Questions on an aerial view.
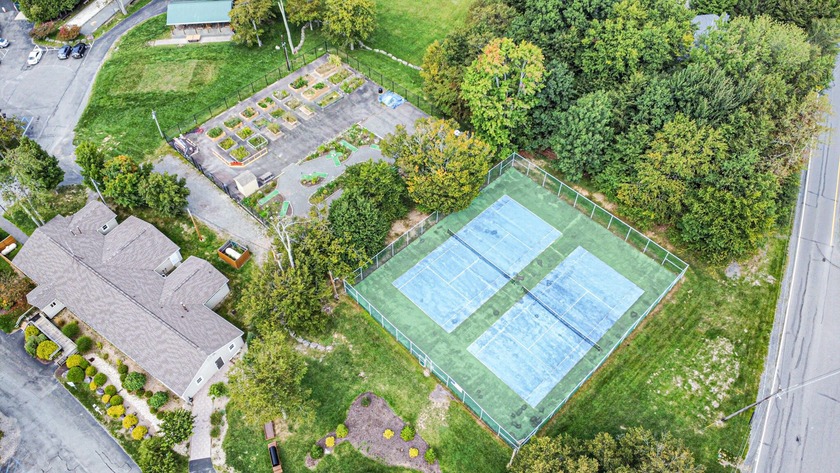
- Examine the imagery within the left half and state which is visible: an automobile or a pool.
automobile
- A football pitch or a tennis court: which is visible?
tennis court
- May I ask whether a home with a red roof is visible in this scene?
No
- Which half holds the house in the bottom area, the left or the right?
left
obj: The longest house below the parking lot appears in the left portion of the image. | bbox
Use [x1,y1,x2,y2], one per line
[11,201,246,403]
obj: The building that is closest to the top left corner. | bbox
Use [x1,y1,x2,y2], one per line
[167,0,239,33]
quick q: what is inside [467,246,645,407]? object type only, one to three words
tennis court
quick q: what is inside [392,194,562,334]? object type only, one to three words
tennis court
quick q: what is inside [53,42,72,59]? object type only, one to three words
car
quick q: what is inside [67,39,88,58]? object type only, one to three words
car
